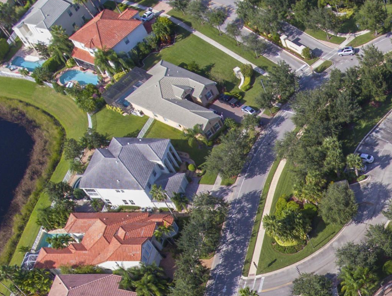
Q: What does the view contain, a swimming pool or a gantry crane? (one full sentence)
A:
Visible in the photo is a swimming pool.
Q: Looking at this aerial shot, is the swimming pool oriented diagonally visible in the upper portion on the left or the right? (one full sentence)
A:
It is on the left.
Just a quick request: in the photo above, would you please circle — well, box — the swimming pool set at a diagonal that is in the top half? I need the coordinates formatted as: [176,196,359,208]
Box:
[115,80,142,108]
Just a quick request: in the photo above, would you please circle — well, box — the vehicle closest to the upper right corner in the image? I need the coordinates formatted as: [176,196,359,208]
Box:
[336,45,355,57]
